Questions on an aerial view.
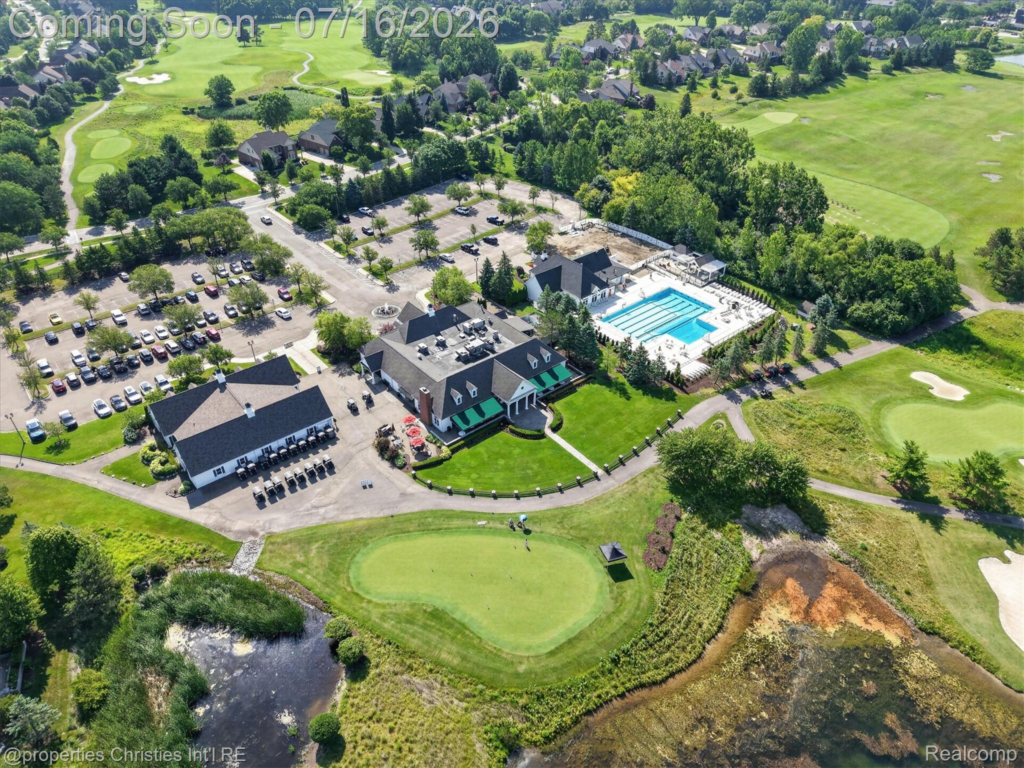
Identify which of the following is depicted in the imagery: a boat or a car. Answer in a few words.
car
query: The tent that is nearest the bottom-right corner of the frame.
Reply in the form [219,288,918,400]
[599,540,632,571]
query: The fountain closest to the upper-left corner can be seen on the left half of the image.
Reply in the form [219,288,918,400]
[371,303,401,320]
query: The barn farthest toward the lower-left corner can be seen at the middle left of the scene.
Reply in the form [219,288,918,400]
[146,353,335,488]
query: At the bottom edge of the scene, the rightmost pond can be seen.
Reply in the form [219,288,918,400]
[494,542,1024,768]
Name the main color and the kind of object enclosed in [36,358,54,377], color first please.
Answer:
white vehicle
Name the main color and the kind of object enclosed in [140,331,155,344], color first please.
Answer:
white vehicle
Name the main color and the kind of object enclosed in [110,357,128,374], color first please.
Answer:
black vehicle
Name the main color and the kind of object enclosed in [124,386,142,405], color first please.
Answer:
white car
